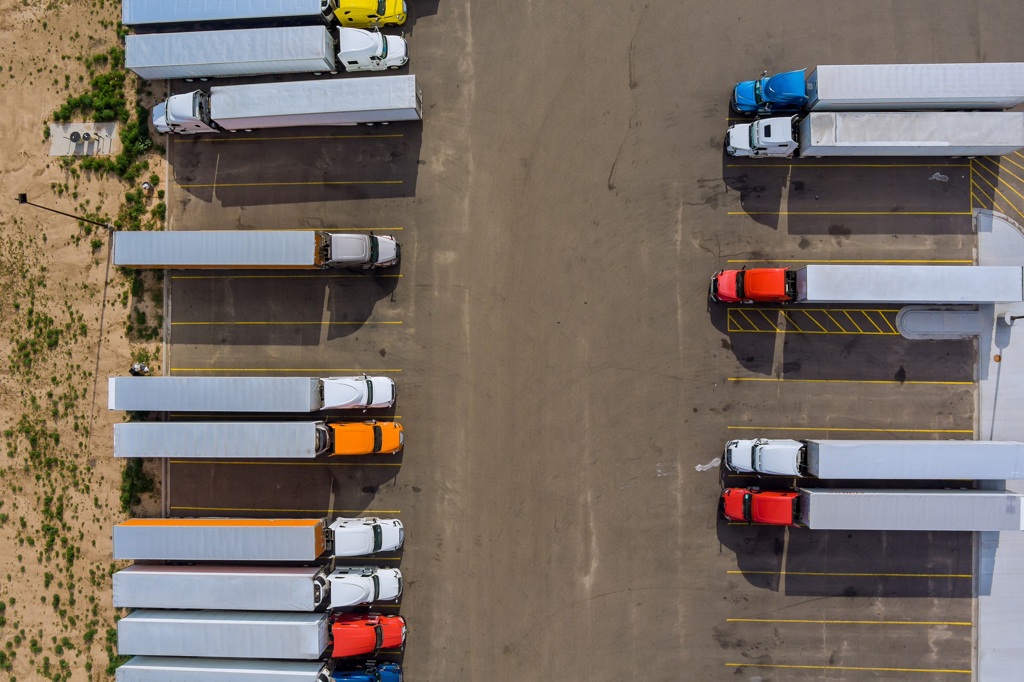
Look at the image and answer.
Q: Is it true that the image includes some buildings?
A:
No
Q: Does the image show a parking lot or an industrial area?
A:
parking lot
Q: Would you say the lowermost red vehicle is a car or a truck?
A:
truck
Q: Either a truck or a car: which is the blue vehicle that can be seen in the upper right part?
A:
truck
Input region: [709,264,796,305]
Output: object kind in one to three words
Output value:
truck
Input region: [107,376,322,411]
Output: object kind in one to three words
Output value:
trailer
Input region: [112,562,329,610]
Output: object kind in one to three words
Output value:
trailer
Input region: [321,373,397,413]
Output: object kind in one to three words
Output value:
truck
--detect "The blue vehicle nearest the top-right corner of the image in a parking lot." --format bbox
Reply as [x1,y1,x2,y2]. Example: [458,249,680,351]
[730,67,835,115]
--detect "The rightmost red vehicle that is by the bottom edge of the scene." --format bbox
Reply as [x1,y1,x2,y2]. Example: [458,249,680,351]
[313,609,407,659]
